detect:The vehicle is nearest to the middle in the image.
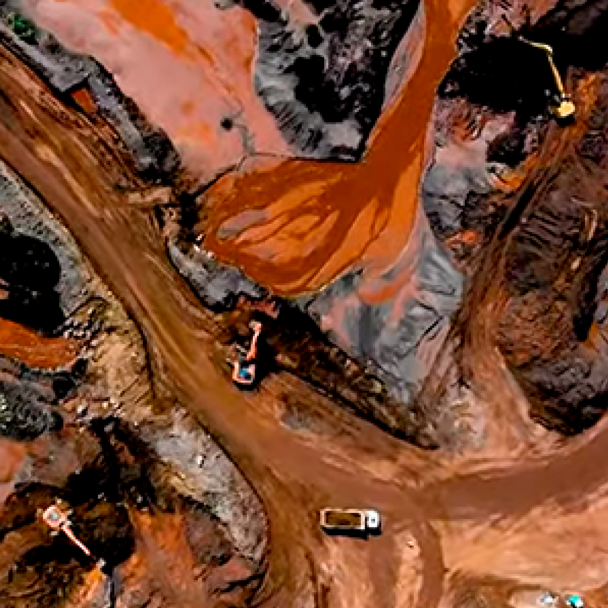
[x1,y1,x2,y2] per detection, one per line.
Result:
[230,315,260,385]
